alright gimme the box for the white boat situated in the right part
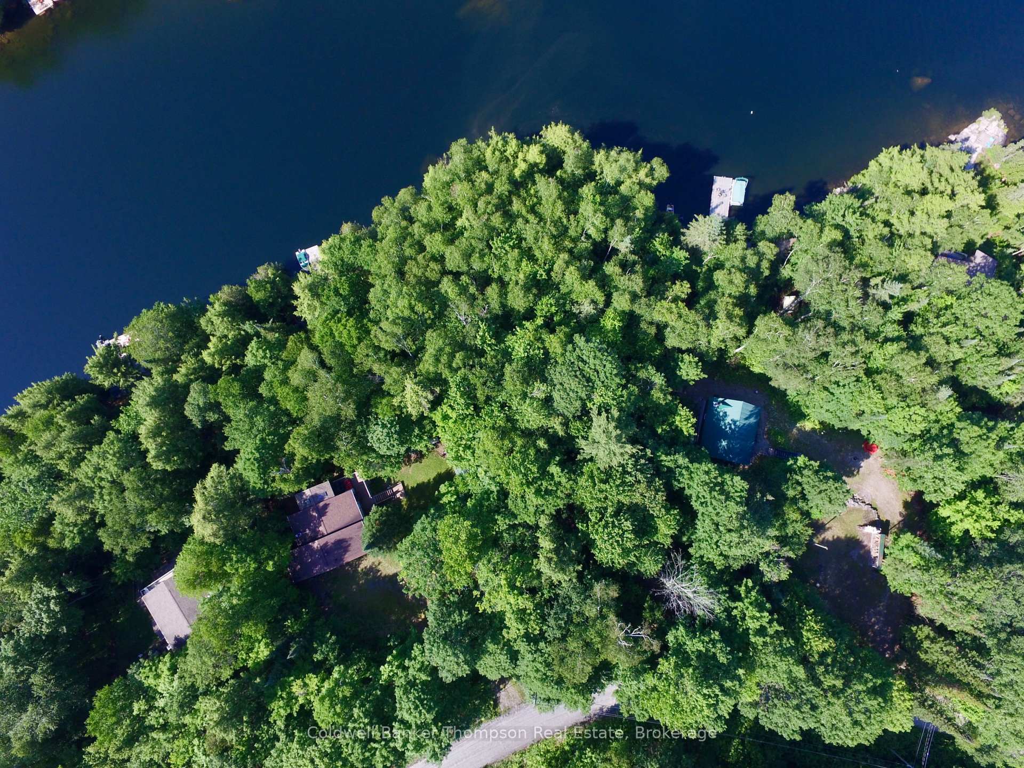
[730,174,753,207]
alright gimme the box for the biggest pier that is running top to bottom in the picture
[709,176,733,226]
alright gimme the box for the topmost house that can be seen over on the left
[288,474,406,582]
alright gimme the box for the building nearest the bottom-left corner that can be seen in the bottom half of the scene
[136,573,206,649]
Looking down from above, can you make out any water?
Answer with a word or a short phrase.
Yes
